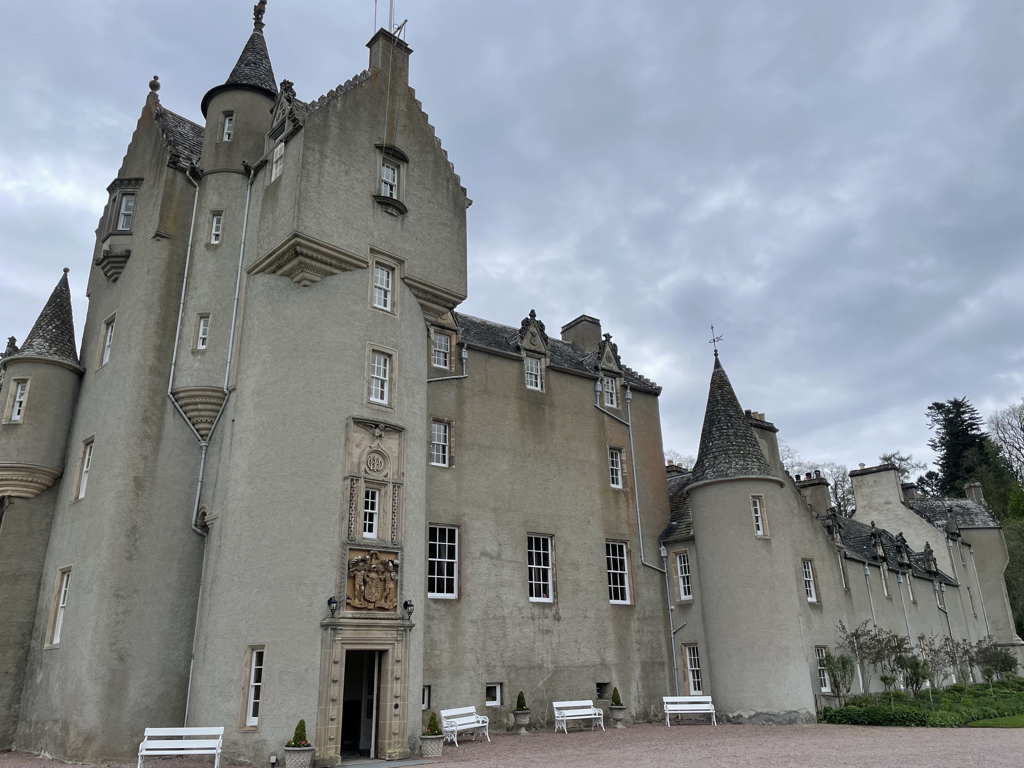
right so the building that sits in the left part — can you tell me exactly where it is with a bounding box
[0,0,689,768]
